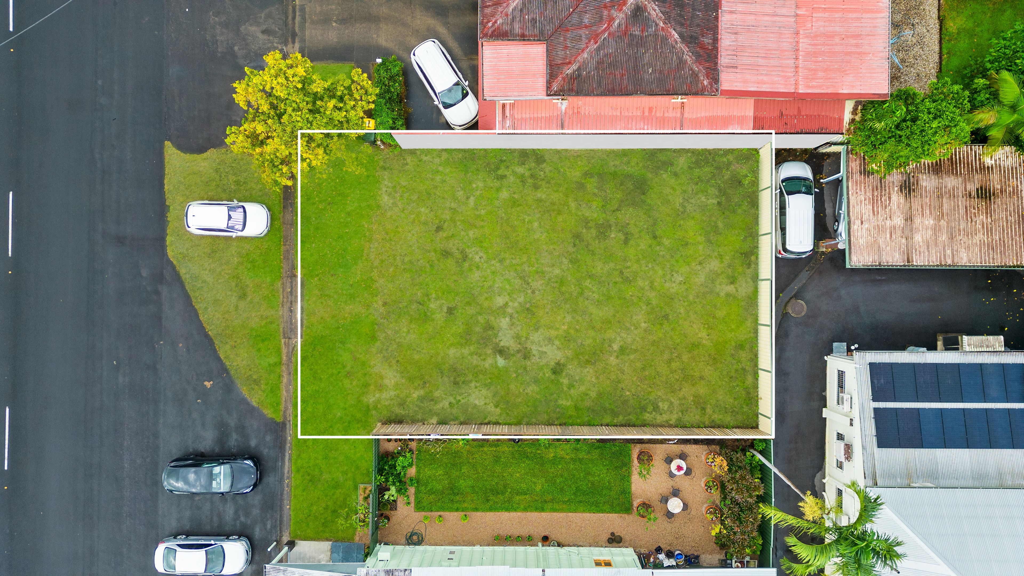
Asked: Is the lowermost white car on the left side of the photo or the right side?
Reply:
left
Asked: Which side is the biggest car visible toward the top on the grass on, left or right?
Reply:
left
